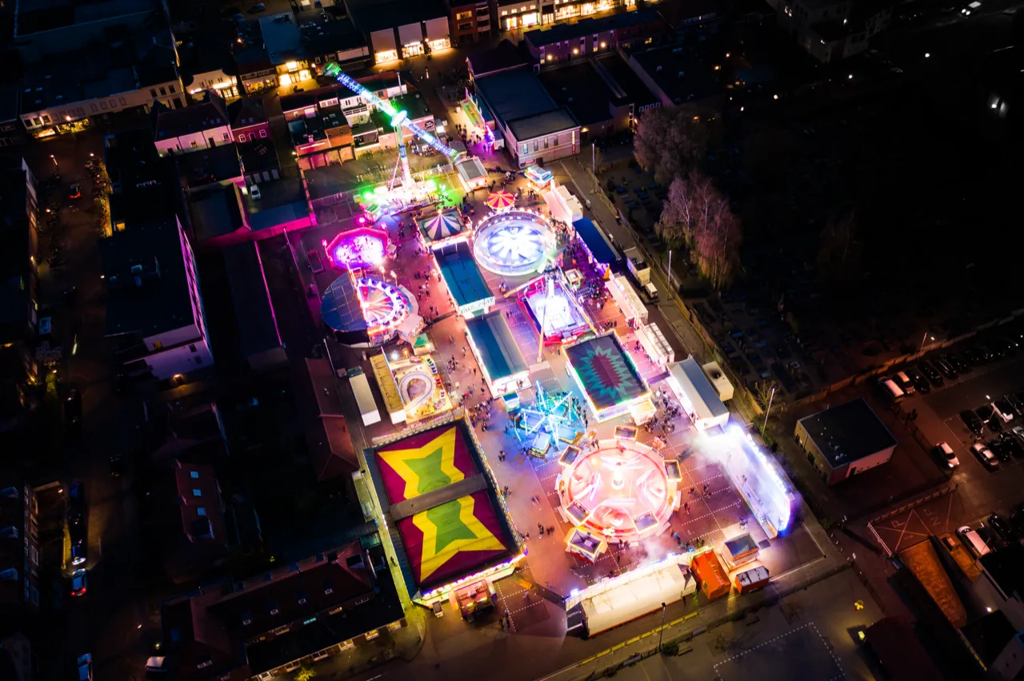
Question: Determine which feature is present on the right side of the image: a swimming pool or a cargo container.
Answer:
cargo container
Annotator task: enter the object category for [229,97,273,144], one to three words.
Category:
house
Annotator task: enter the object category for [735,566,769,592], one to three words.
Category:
shipping container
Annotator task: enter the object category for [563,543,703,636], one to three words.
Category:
tent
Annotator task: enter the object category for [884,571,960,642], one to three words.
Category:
shed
